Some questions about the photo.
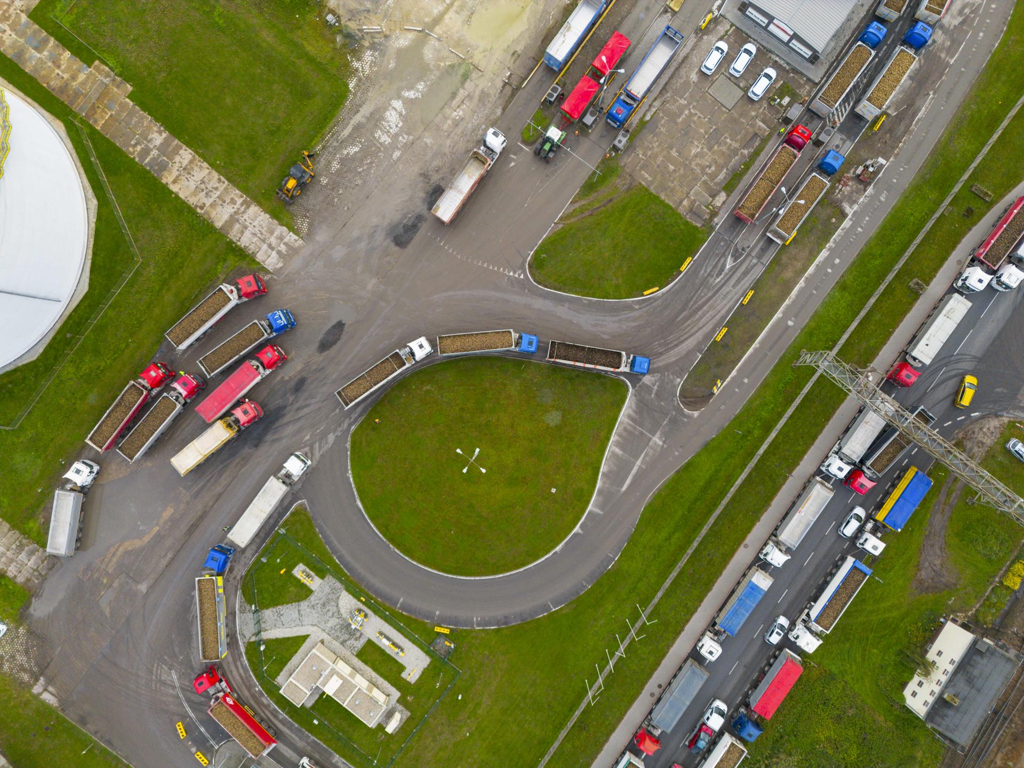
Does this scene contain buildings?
Yes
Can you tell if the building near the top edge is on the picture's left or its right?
right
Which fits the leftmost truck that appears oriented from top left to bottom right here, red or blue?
red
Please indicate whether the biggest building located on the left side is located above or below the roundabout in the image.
below it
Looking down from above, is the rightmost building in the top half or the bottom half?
bottom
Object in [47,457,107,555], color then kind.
white truck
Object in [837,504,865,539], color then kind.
white car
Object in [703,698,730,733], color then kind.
white car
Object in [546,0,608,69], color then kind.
white truck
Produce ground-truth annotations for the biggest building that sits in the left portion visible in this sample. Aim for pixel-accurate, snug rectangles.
[279,643,389,728]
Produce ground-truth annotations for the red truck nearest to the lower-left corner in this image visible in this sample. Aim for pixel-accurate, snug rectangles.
[192,661,275,759]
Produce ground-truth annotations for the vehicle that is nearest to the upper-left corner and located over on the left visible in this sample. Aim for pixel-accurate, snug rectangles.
[275,146,314,203]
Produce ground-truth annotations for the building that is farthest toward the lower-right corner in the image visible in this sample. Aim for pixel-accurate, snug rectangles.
[904,621,1020,746]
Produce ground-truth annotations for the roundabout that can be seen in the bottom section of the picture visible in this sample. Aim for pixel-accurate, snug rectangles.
[306,355,646,628]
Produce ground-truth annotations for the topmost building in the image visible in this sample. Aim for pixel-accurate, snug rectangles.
[732,0,861,71]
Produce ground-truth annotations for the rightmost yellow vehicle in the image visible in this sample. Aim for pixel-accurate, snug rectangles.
[953,375,977,409]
